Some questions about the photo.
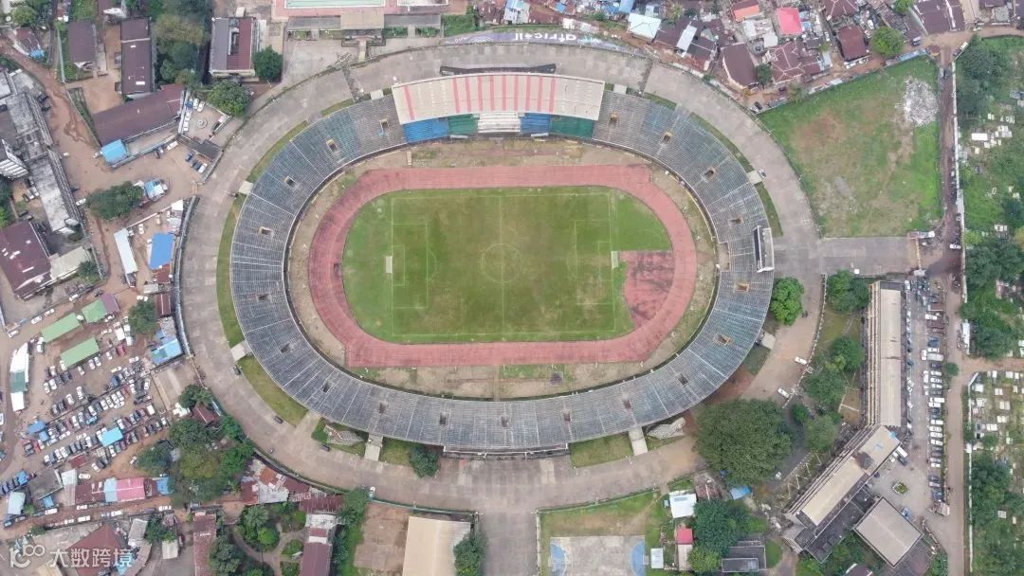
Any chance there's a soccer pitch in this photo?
Yes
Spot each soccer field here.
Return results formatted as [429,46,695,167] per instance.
[342,186,672,344]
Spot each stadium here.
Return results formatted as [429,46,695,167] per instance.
[230,63,775,461]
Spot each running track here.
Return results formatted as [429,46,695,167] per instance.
[309,165,697,367]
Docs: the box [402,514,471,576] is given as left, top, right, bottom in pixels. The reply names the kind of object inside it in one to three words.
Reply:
building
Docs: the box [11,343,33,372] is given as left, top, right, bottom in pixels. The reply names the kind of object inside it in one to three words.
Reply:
shed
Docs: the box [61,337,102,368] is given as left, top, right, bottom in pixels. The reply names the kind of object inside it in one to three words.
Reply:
building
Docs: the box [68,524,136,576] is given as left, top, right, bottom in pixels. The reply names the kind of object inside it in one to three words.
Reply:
house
